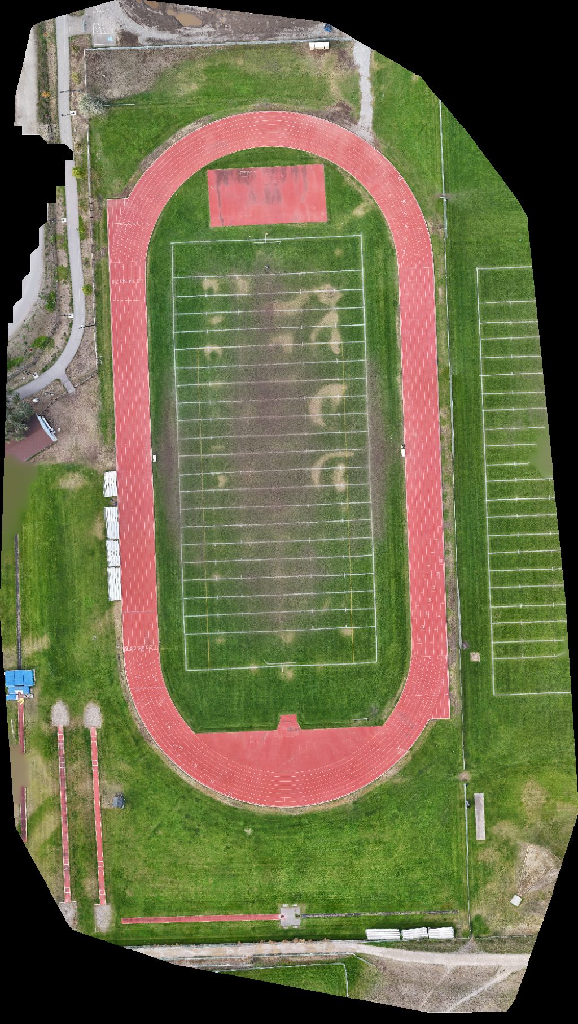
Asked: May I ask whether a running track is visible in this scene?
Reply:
Yes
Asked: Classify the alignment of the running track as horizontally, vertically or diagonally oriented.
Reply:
vertically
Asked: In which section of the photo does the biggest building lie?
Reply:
left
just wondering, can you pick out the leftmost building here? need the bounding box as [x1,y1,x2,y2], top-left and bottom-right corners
[2,412,54,462]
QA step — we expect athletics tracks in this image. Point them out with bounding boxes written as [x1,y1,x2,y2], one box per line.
[107,110,450,808]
